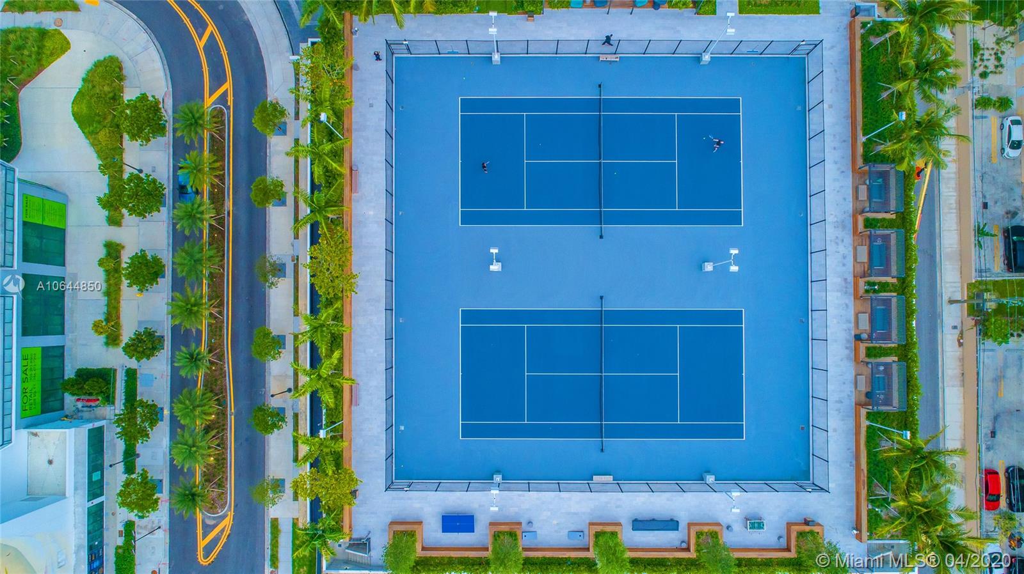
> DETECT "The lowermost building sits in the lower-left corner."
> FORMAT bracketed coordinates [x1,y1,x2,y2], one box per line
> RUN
[0,420,106,574]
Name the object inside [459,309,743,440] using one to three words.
tennis court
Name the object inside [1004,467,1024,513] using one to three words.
car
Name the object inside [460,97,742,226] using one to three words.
tennis court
